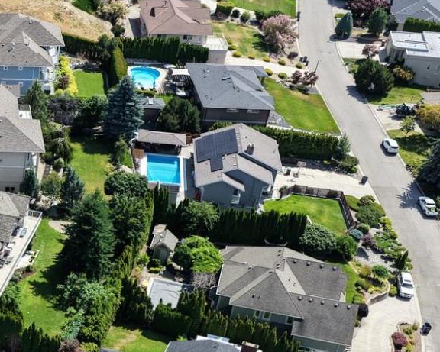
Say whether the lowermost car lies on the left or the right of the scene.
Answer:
right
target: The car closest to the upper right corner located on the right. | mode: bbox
[379,137,402,156]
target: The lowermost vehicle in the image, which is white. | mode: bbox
[395,273,416,301]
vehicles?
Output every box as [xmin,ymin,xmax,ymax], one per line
[411,193,440,221]
[395,273,416,301]
[379,137,402,156]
